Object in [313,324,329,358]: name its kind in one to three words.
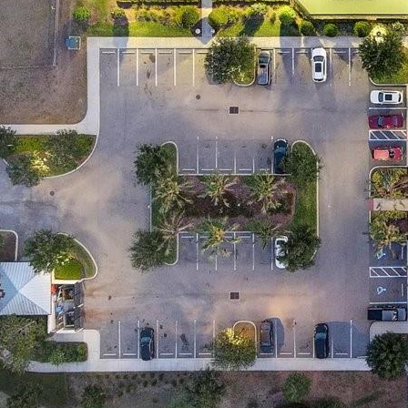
car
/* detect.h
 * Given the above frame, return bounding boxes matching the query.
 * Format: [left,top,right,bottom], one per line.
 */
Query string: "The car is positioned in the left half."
[138,326,156,360]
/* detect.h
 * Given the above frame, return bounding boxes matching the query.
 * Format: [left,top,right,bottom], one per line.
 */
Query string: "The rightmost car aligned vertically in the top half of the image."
[311,48,326,81]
